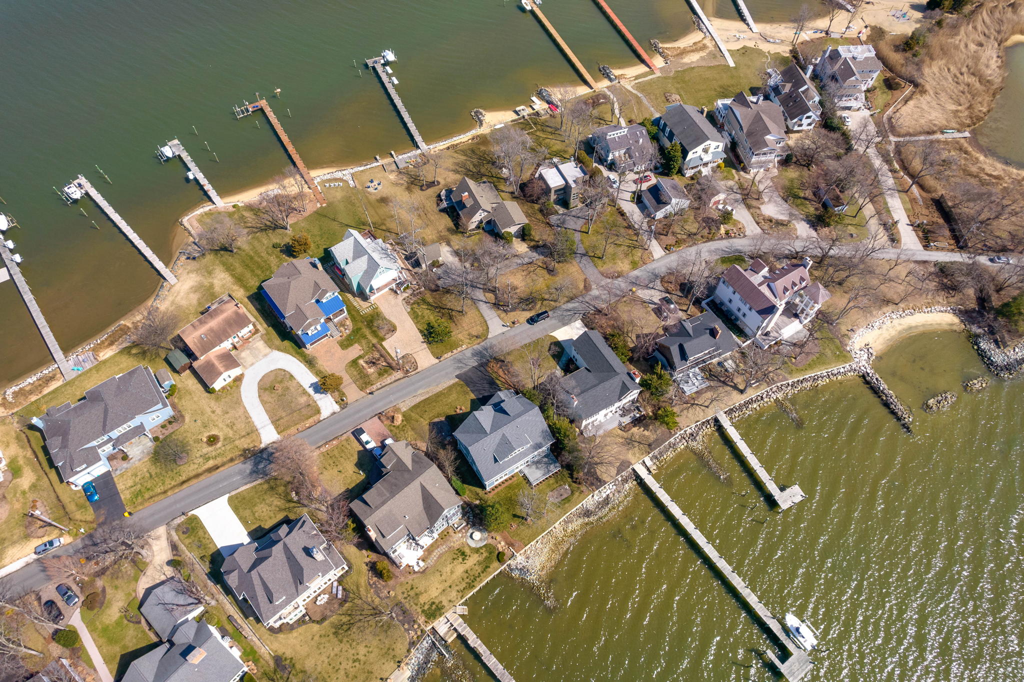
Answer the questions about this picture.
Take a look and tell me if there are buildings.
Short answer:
Yes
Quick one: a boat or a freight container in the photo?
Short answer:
boat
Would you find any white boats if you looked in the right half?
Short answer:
Yes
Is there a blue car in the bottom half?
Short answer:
Yes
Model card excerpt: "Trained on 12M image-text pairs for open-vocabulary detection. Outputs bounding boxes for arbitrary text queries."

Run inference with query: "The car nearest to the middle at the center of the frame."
[528,309,551,326]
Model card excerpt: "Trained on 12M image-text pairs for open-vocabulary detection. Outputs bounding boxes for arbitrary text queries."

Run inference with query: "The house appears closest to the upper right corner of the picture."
[811,41,882,114]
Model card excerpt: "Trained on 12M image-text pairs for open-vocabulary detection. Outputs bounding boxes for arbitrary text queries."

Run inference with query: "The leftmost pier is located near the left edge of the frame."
[0,238,73,381]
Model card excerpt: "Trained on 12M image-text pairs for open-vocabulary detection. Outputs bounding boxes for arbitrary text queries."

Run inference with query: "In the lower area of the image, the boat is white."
[788,616,819,651]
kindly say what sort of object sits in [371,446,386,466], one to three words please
car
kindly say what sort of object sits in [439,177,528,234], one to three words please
house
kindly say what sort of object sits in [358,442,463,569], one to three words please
house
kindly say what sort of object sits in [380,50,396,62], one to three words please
boat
